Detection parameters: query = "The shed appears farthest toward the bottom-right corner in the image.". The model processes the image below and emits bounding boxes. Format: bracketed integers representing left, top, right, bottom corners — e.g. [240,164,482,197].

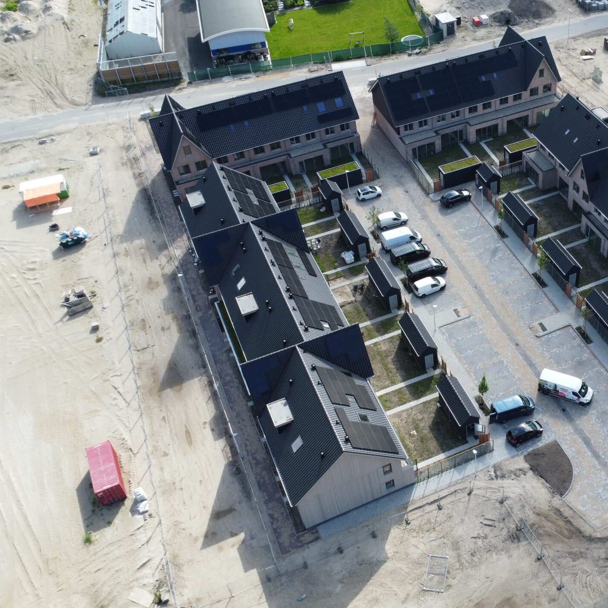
[435,375,481,438]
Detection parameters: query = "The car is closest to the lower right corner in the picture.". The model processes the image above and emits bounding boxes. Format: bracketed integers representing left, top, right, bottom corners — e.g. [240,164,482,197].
[506,421,544,447]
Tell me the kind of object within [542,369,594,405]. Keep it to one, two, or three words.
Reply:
van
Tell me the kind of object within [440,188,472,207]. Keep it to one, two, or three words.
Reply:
car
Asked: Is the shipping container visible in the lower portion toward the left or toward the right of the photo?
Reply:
left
